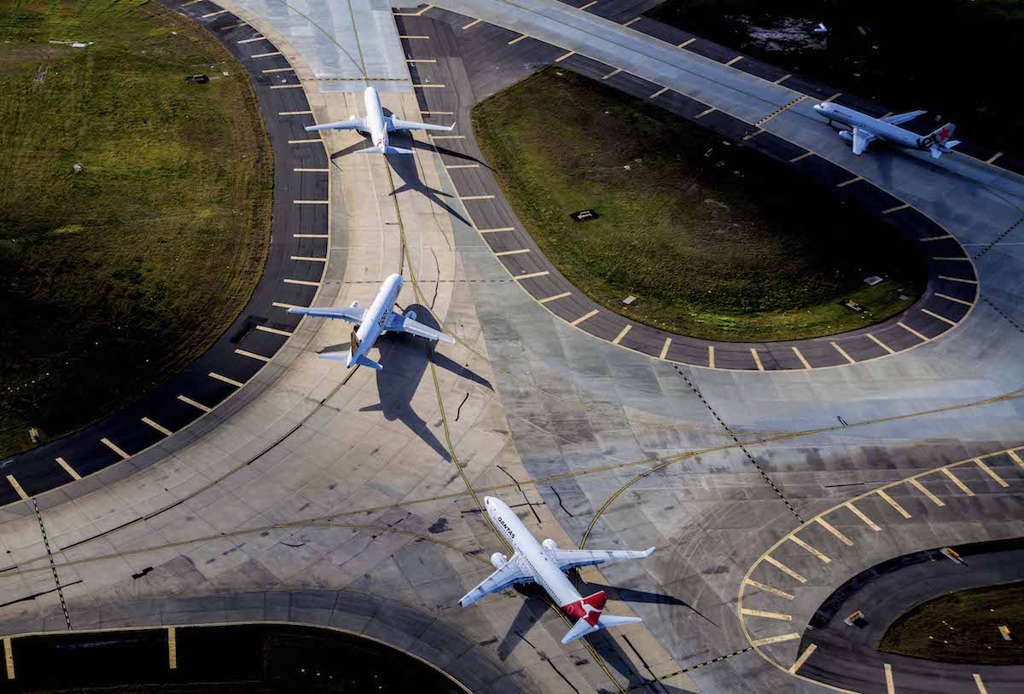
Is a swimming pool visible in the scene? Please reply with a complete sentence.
No, there is no swimming pool in the image.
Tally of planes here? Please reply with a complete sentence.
There are 4 planes in the image.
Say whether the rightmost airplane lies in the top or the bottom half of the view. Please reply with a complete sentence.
The rightmost airplane sits in the top half of the picture.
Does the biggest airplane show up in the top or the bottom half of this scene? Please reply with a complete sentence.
You can find the biggest airplane in the bottom half.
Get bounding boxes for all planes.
[302,86,456,154]
[286,274,457,368]
[455,499,654,641]
[815,103,960,157]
